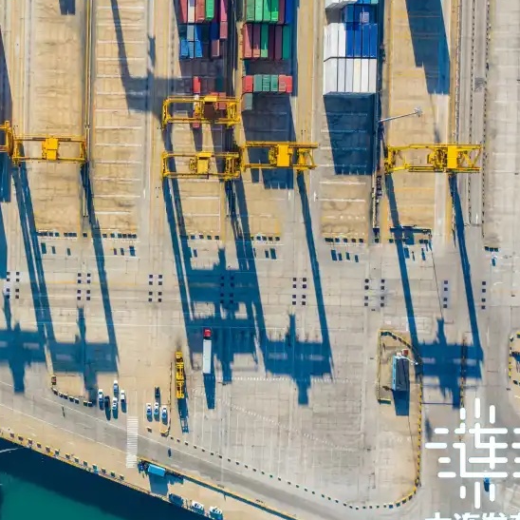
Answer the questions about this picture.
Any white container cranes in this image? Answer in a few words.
No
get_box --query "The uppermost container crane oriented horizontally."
[158,95,244,131]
